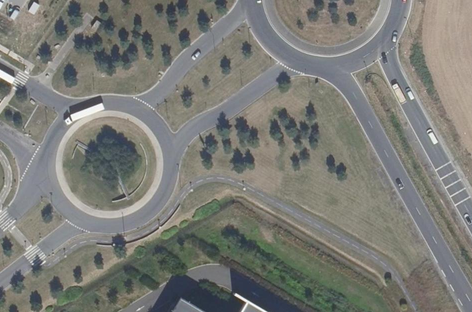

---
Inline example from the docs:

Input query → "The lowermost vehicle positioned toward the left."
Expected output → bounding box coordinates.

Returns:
[64,101,104,123]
